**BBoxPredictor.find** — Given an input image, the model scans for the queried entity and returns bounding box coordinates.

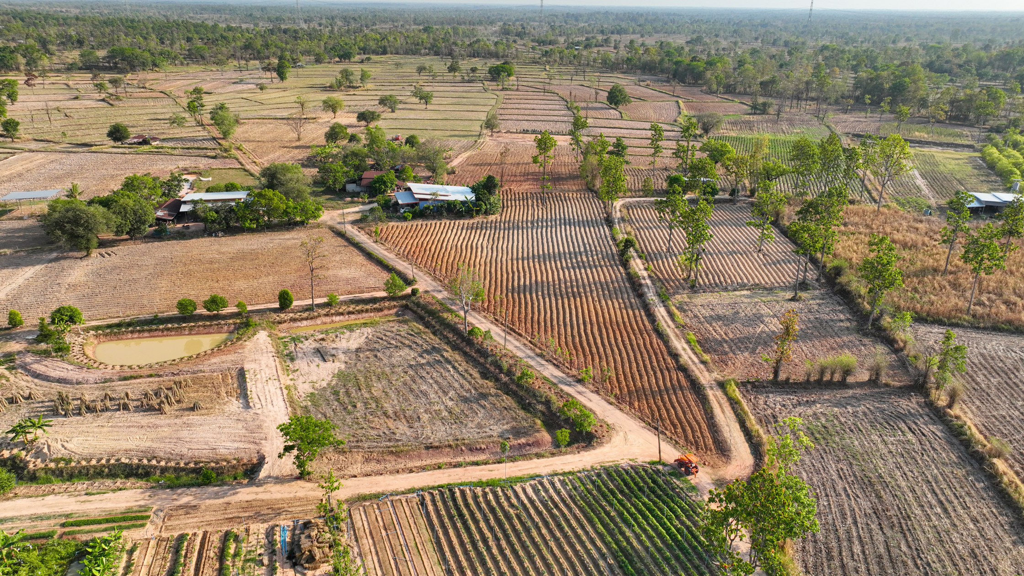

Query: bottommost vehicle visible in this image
[672,451,699,477]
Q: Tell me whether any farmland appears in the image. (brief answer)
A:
Yes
